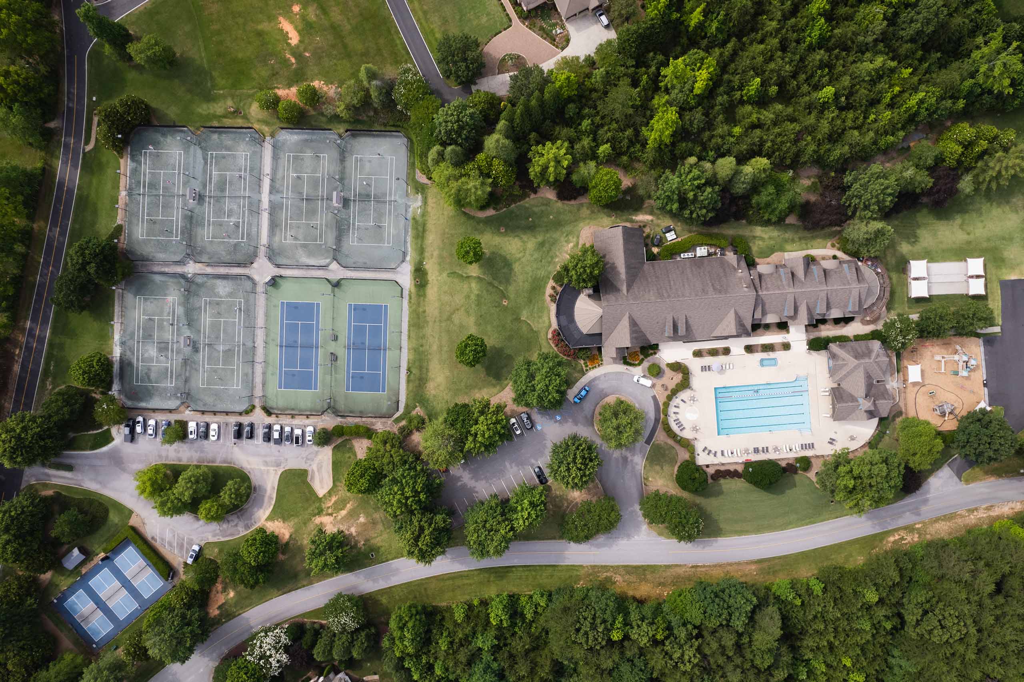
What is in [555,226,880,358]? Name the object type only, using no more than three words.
building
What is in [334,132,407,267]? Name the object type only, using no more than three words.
tennis court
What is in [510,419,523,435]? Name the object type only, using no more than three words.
vehicle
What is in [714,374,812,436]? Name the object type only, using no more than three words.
swimming pool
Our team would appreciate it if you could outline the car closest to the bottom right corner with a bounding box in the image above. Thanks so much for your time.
[633,375,652,387]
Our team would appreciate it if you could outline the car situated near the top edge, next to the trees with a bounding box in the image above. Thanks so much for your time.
[596,9,610,28]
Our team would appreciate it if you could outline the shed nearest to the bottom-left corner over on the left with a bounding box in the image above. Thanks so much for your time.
[57,550,84,573]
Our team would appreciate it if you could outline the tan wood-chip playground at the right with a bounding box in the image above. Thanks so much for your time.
[903,336,986,432]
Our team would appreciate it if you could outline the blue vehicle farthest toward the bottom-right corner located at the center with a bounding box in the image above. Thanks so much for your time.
[575,386,588,403]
